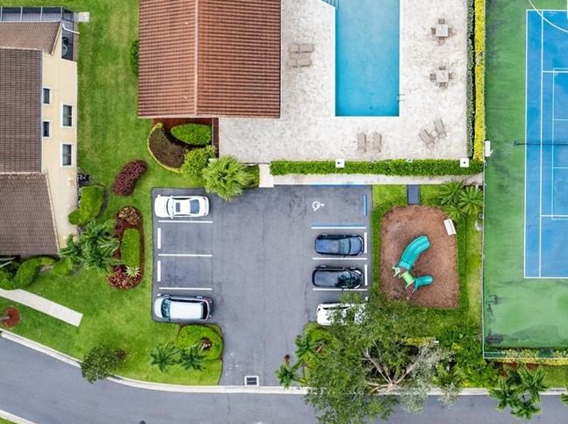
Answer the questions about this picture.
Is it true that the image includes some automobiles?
Yes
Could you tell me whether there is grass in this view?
Yes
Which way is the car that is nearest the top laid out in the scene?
from left to right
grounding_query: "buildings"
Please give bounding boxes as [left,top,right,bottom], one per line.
[0,20,79,256]
[137,0,282,119]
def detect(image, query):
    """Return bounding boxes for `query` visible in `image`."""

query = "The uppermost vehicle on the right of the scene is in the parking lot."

[315,234,366,260]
